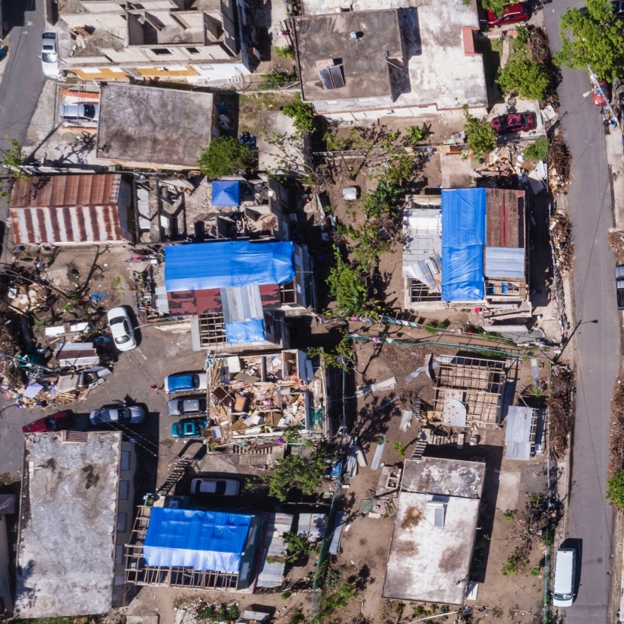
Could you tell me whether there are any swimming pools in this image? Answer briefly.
No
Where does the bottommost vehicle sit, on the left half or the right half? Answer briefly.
right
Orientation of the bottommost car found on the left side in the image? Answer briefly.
from left to right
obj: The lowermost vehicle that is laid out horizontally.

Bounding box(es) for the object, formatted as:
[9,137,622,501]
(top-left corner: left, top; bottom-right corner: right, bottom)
[189,476,242,498]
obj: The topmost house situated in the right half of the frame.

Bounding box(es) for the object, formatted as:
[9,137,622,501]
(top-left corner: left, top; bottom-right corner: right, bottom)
[293,0,488,127]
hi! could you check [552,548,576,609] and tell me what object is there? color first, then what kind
white vehicle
